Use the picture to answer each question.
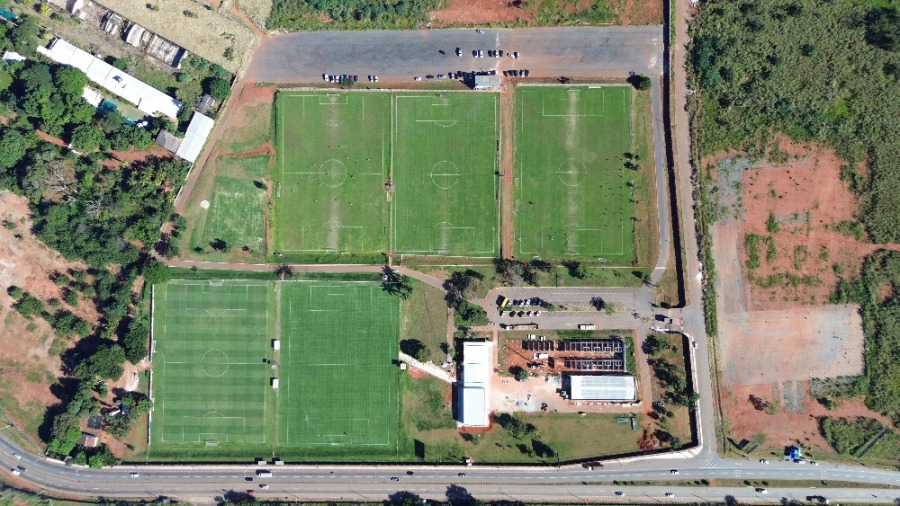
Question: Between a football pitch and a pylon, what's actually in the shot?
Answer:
football pitch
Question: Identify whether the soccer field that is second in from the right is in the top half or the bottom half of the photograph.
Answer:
top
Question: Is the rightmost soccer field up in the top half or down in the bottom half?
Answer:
top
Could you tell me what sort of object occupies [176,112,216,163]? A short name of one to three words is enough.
shed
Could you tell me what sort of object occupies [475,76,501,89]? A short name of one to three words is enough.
building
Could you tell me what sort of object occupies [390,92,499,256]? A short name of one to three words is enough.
soccer field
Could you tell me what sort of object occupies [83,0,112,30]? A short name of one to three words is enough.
shed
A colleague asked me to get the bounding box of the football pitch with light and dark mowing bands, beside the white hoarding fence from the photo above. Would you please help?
[150,281,275,448]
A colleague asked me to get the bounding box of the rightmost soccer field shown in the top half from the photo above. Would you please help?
[514,85,634,259]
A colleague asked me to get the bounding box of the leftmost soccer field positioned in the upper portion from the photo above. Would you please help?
[272,91,388,254]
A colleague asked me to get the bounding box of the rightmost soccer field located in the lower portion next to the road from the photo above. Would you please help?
[279,282,398,449]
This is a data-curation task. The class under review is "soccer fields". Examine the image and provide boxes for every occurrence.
[279,282,398,449]
[390,92,499,256]
[514,85,634,259]
[272,91,388,254]
[150,281,275,448]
